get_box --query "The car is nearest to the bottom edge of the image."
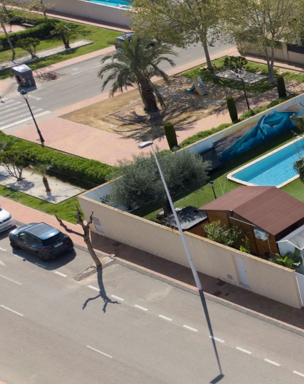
[1,215,76,261]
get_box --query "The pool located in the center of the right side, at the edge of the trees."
[229,131,303,188]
